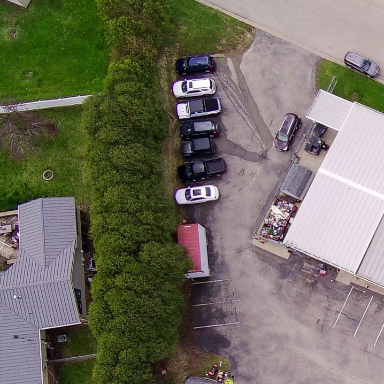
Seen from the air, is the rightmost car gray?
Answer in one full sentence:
Yes, the rightmost car is indeed gray.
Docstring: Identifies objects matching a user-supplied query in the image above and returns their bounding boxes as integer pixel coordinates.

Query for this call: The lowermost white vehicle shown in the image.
[175,186,220,204]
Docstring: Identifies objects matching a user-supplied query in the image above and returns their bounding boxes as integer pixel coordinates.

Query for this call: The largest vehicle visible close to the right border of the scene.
[342,49,382,78]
